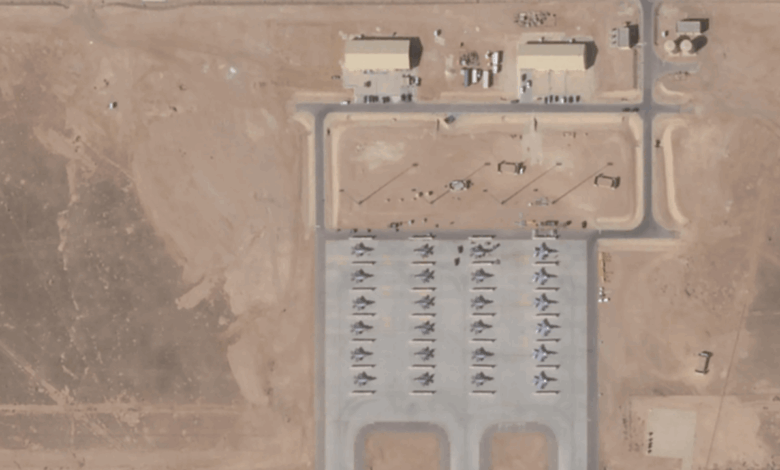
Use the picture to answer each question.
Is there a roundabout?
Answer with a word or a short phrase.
No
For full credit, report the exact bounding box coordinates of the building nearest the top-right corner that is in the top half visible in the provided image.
[676,20,701,34]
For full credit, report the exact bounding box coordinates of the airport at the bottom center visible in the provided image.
[324,239,588,470]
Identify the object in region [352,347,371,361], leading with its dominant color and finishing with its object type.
gray airplane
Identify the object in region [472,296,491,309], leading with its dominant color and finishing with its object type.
gray airplane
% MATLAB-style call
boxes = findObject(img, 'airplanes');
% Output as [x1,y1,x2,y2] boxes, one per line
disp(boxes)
[414,296,434,310]
[472,296,491,309]
[532,268,555,284]
[472,347,491,361]
[532,295,555,311]
[414,373,434,387]
[415,321,434,335]
[472,374,491,387]
[415,245,433,258]
[352,322,372,335]
[472,270,491,283]
[472,245,492,258]
[353,270,372,283]
[353,296,373,310]
[415,270,434,283]
[353,245,373,258]
[354,373,374,387]
[532,347,555,363]
[352,347,371,361]
[415,347,434,361]
[532,372,555,388]
[532,243,556,259]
